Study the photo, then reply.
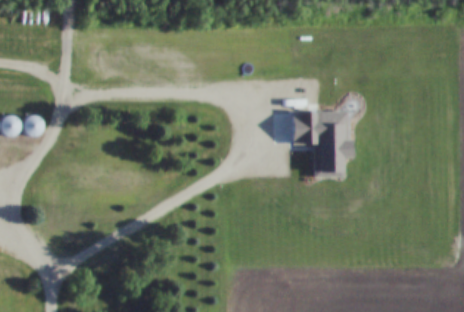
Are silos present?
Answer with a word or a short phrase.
Yes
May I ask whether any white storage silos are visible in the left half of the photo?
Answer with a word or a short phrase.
Yes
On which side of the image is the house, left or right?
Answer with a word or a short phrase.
right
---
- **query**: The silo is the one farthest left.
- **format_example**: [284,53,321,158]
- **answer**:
[0,115,22,136]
